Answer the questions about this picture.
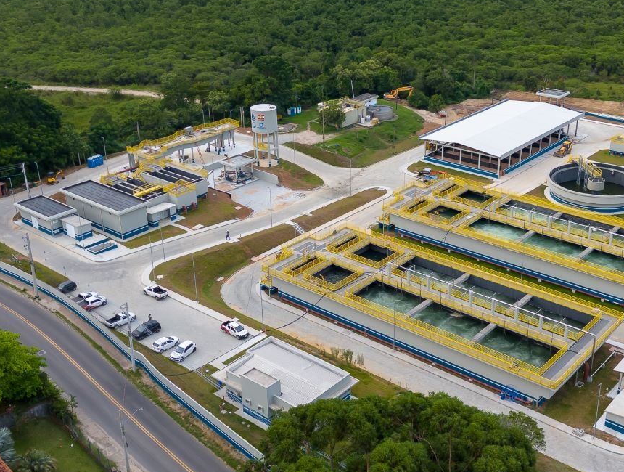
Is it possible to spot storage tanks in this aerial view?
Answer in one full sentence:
Yes, this view includes a storage tank.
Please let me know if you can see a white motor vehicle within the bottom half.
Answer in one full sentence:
Yes, you'll find a white motor vehicle within the bottom half.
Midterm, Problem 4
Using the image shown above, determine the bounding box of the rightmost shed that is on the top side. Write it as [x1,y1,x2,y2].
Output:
[418,100,589,178]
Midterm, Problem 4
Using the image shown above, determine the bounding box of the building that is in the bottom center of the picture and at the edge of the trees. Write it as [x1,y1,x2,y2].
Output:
[207,334,360,424]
